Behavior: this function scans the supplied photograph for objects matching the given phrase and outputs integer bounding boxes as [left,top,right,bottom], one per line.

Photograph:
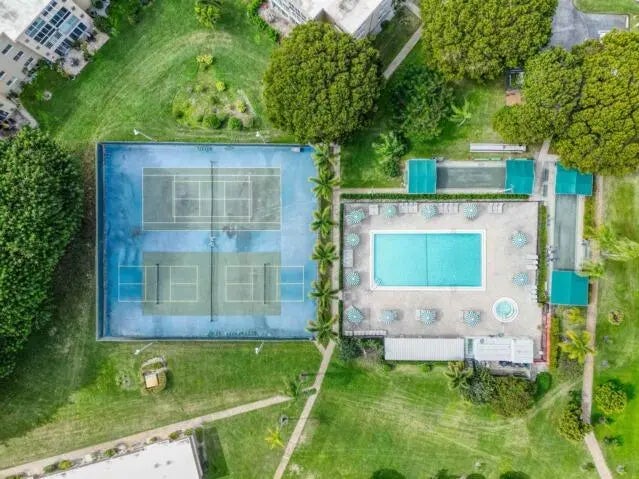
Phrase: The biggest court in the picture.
[104,145,318,339]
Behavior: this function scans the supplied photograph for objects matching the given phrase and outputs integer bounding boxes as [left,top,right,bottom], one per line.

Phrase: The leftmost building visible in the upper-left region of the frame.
[0,0,94,122]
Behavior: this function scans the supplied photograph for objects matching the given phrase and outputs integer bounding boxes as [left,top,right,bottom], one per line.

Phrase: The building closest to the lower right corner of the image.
[469,335,535,364]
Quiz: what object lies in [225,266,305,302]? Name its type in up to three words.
sports court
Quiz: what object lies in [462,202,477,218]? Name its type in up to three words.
umbrella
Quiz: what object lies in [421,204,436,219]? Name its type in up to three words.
umbrella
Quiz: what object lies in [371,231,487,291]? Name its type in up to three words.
swimming pool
